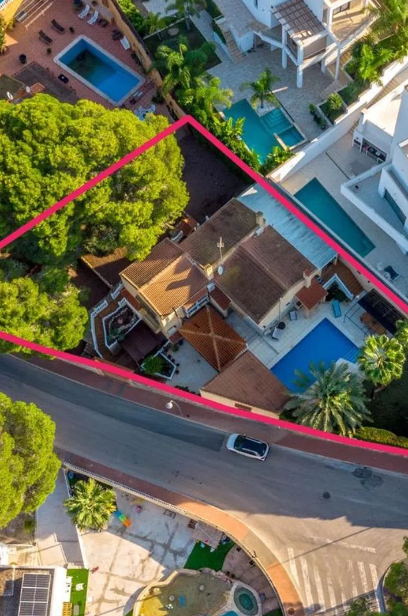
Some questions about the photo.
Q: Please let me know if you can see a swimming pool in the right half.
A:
Yes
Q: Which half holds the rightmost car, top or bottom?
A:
bottom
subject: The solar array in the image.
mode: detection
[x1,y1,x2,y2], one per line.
[17,574,50,616]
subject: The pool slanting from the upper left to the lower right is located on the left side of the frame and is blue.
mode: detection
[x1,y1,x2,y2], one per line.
[51,35,147,107]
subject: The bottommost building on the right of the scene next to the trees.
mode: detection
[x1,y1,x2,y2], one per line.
[201,350,291,419]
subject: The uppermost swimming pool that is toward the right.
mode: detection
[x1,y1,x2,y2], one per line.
[228,97,308,168]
